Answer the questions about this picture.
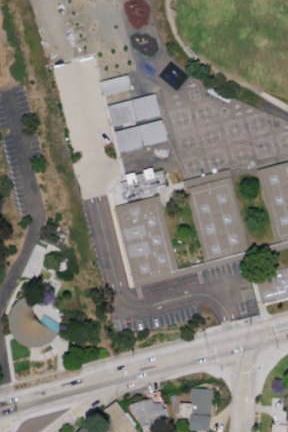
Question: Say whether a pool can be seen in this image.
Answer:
No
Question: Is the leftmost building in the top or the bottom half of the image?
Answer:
bottom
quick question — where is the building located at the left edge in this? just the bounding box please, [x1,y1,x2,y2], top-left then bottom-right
[8,300,60,348]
